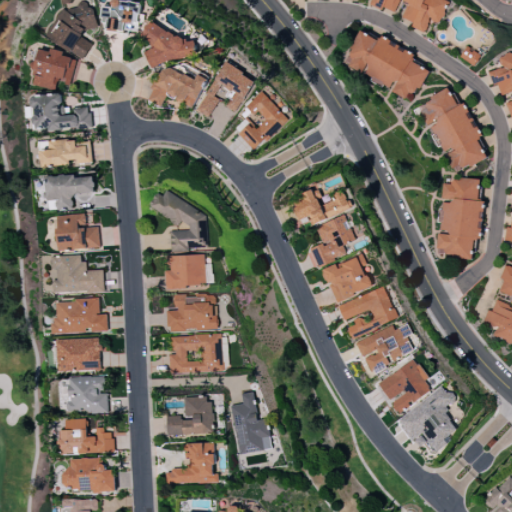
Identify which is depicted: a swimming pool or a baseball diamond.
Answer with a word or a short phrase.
swimming pool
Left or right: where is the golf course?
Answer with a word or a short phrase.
left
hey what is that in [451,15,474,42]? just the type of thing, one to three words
swimming pool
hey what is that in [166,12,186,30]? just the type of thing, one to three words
swimming pool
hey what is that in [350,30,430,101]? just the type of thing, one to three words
building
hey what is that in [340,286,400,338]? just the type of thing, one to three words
house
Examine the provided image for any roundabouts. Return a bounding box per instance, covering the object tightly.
[94,62,136,104]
